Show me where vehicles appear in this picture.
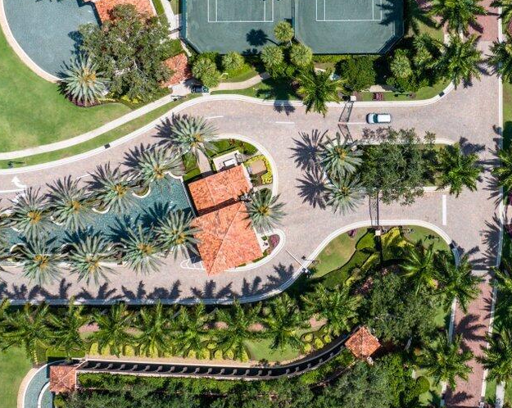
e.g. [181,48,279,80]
[193,85,208,93]
[366,112,392,125]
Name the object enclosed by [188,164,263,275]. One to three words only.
building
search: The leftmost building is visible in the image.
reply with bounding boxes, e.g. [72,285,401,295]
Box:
[49,361,84,393]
